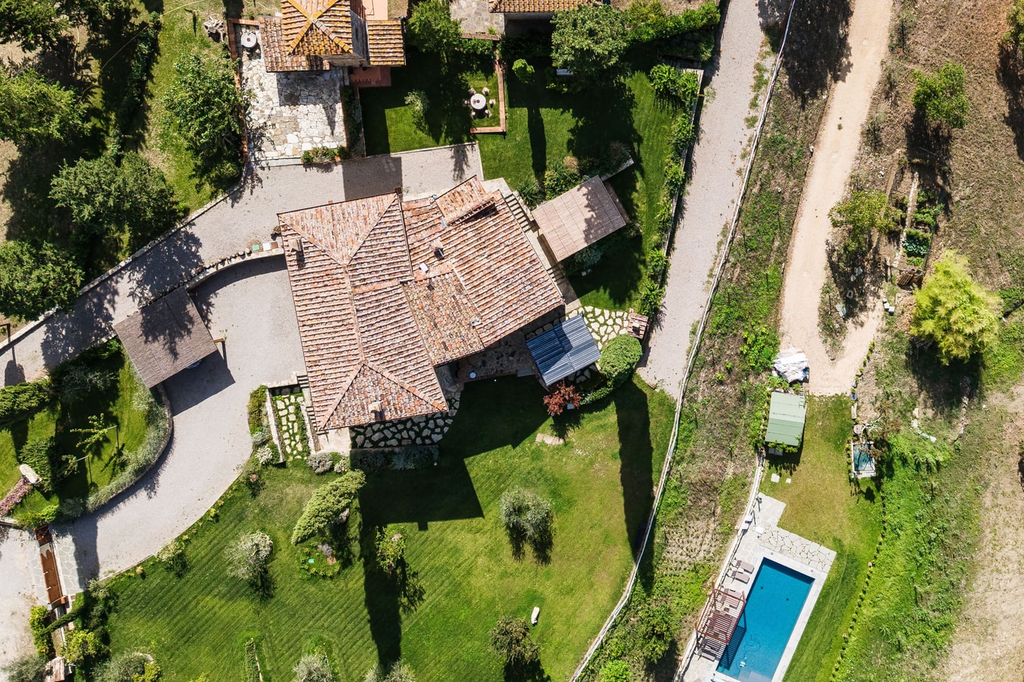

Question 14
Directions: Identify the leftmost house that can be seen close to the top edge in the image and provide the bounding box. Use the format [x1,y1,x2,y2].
[258,0,409,73]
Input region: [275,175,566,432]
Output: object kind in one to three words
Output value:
house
